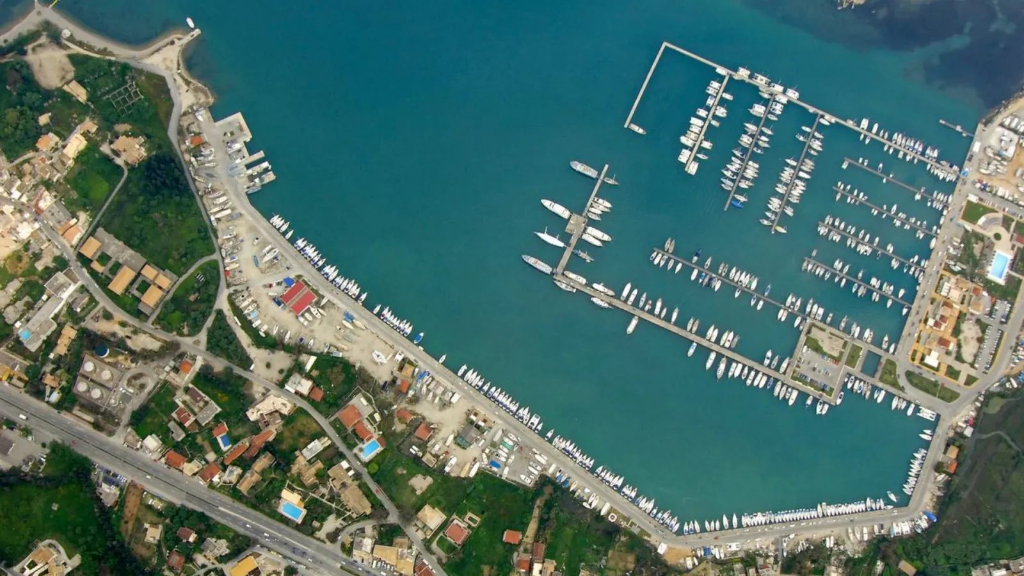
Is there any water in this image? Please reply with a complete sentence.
Yes, the picture does contain water.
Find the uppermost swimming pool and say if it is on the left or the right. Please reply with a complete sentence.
The uppermost swimming pool sits on the right side.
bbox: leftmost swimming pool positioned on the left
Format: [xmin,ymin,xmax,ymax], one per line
[17,326,34,344]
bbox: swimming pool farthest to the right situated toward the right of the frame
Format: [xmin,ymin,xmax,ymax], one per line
[985,249,1012,282]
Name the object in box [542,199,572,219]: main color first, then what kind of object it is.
white boat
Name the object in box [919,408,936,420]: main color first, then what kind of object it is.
white boat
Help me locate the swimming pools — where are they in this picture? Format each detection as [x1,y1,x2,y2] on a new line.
[17,326,34,344]
[352,435,385,463]
[985,249,1012,282]
[464,511,481,527]
[279,499,306,525]
[218,433,231,451]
